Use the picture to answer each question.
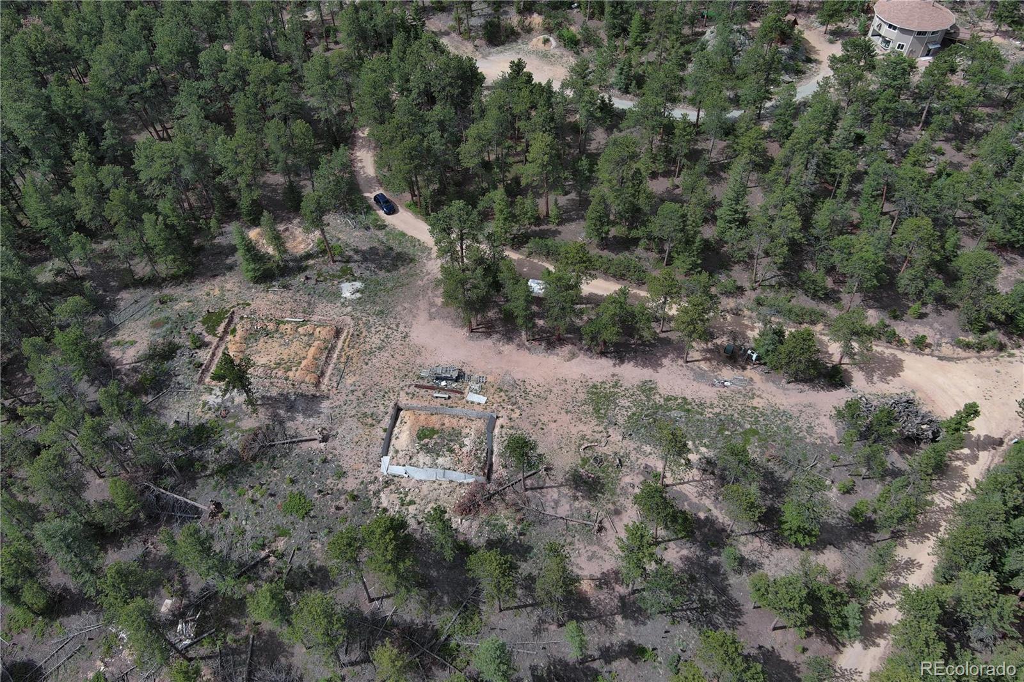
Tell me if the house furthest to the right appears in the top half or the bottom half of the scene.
top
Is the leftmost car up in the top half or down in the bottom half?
top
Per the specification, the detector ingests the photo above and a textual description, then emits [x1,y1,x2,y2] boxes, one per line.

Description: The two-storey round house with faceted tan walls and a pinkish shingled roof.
[870,0,974,60]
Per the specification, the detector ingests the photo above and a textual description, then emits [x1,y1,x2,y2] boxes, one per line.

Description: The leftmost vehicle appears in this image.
[372,189,395,213]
